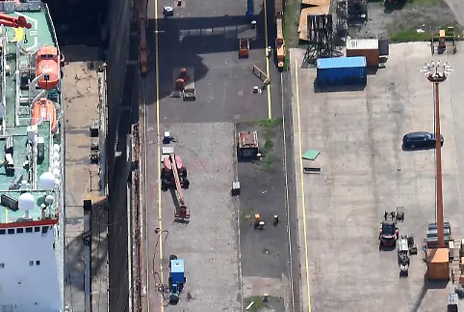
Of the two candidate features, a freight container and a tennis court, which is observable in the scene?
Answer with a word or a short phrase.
freight container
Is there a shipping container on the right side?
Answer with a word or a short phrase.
Yes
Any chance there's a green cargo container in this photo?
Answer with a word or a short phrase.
No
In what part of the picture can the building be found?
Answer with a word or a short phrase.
bottom right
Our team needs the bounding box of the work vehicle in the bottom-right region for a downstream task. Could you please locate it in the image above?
[379,210,397,245]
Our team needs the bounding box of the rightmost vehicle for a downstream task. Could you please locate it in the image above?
[404,130,434,148]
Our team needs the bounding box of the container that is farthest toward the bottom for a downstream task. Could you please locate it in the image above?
[315,59,367,89]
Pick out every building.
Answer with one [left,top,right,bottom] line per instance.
[426,248,450,279]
